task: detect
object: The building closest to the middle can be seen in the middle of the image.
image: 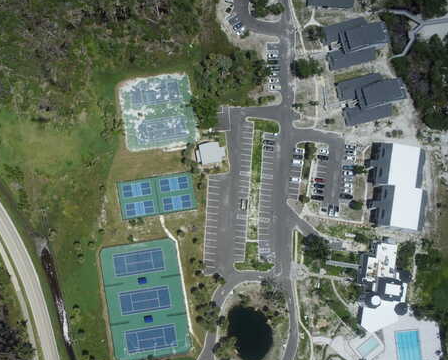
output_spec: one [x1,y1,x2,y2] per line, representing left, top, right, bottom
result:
[194,141,226,165]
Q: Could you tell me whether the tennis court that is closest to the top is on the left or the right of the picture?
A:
left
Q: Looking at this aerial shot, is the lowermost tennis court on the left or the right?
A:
left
